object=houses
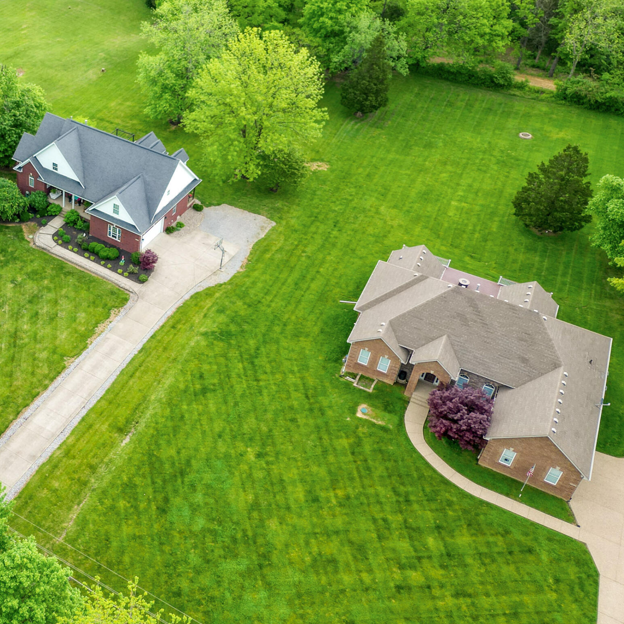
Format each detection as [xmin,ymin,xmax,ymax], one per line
[346,244,619,502]
[12,114,204,252]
